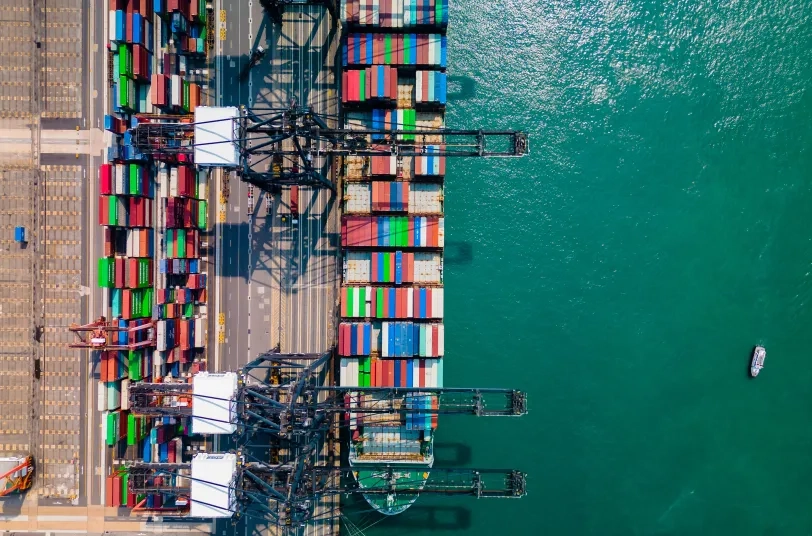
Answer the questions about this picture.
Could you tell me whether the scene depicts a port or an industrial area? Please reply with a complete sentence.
The picture captures a port.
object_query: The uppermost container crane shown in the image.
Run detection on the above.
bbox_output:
[251,0,337,31]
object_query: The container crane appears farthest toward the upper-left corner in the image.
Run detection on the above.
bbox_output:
[132,106,195,142]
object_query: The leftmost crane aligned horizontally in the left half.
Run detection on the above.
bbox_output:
[72,318,158,350]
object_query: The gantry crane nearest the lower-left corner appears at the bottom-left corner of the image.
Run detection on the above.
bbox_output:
[0,456,33,504]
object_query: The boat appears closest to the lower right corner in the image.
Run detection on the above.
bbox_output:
[753,346,770,378]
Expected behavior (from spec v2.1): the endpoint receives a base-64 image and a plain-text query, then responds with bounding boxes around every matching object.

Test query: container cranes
[130,106,527,196]
[129,412,527,526]
[132,477,195,512]
[0,456,33,504]
[130,345,527,435]
[72,318,158,350]
[251,0,337,31]
[132,106,195,142]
